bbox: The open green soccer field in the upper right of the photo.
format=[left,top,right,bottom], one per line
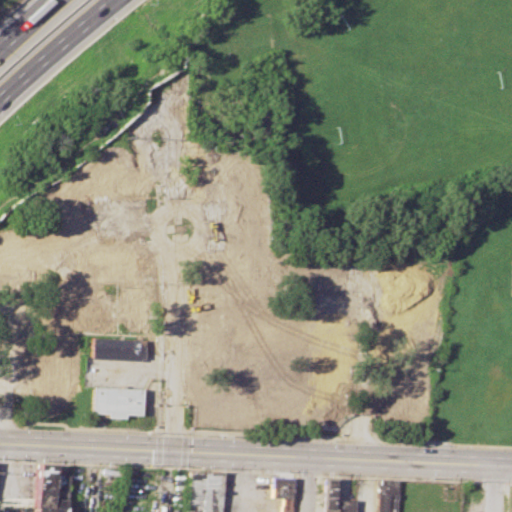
[303,0,512,175]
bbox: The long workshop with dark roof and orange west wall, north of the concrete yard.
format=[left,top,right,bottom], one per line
[90,338,148,362]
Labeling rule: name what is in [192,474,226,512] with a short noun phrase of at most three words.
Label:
building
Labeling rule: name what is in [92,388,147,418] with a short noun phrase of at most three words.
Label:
building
